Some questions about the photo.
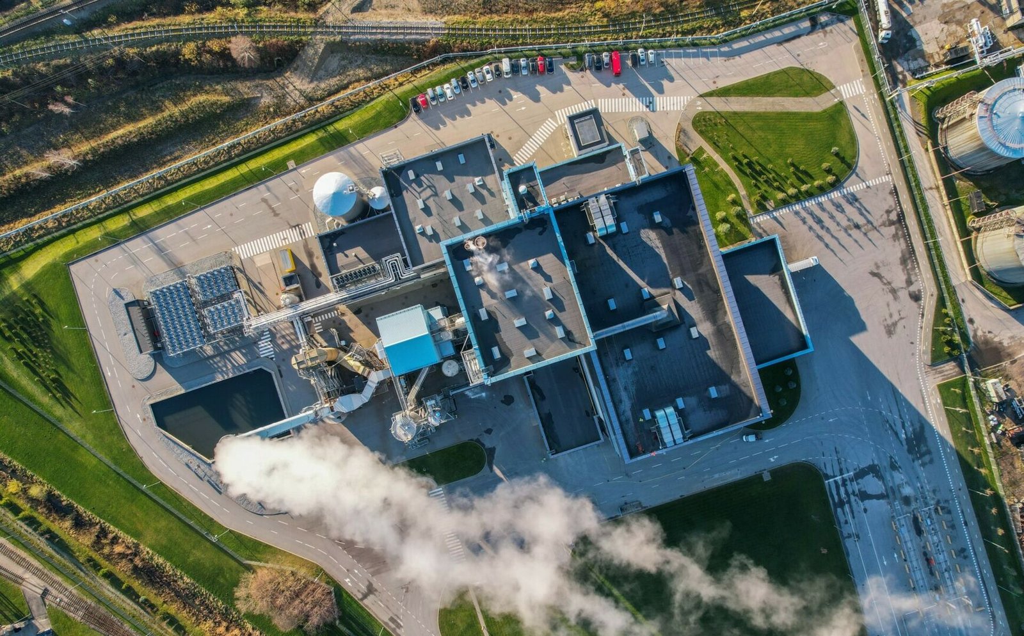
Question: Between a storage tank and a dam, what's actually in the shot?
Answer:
storage tank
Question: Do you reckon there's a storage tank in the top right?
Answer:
Yes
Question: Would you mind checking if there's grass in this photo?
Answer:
Yes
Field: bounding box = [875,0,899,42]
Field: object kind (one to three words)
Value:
truck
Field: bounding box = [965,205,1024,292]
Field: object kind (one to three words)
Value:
storage tank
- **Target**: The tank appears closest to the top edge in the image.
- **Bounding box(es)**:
[932,77,1024,178]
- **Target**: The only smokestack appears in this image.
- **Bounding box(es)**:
[213,392,339,454]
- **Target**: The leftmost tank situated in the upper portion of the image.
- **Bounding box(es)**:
[312,172,370,227]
